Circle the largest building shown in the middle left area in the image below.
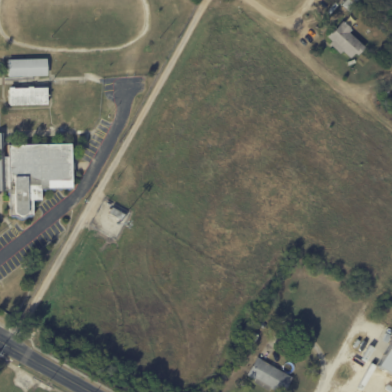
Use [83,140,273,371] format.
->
[4,144,74,219]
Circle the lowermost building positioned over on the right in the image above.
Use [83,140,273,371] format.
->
[248,356,292,392]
